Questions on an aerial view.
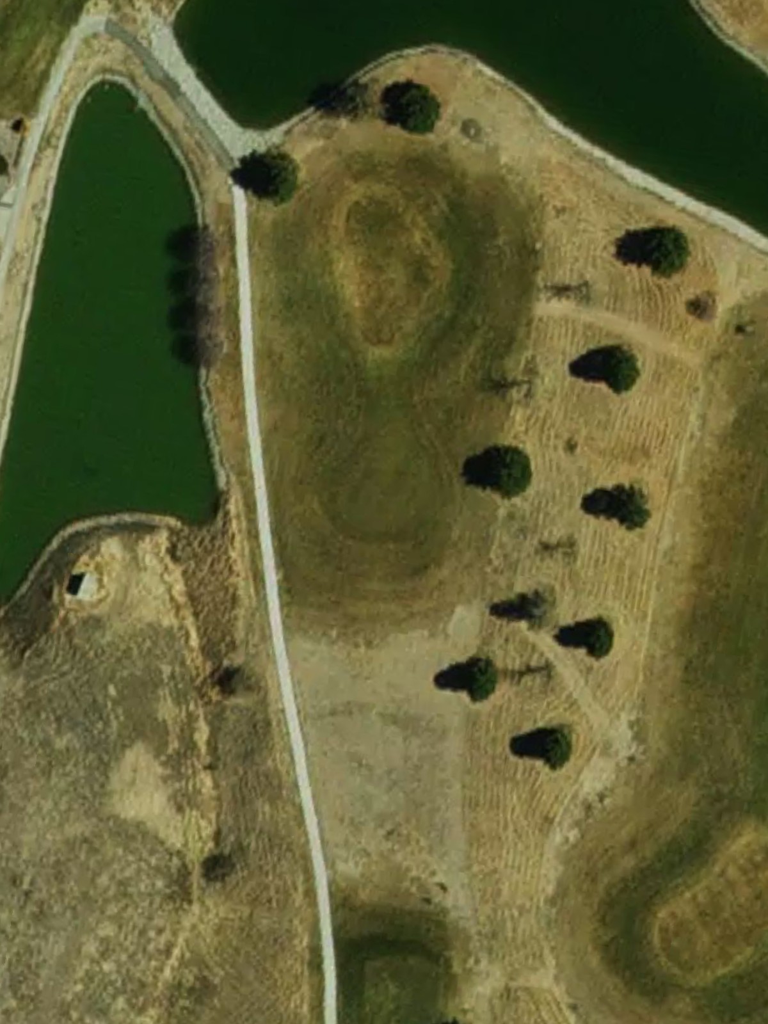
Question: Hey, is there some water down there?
Yes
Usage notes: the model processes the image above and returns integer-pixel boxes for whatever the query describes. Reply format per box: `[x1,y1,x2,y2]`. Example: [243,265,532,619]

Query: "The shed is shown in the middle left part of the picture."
[79,574,100,601]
